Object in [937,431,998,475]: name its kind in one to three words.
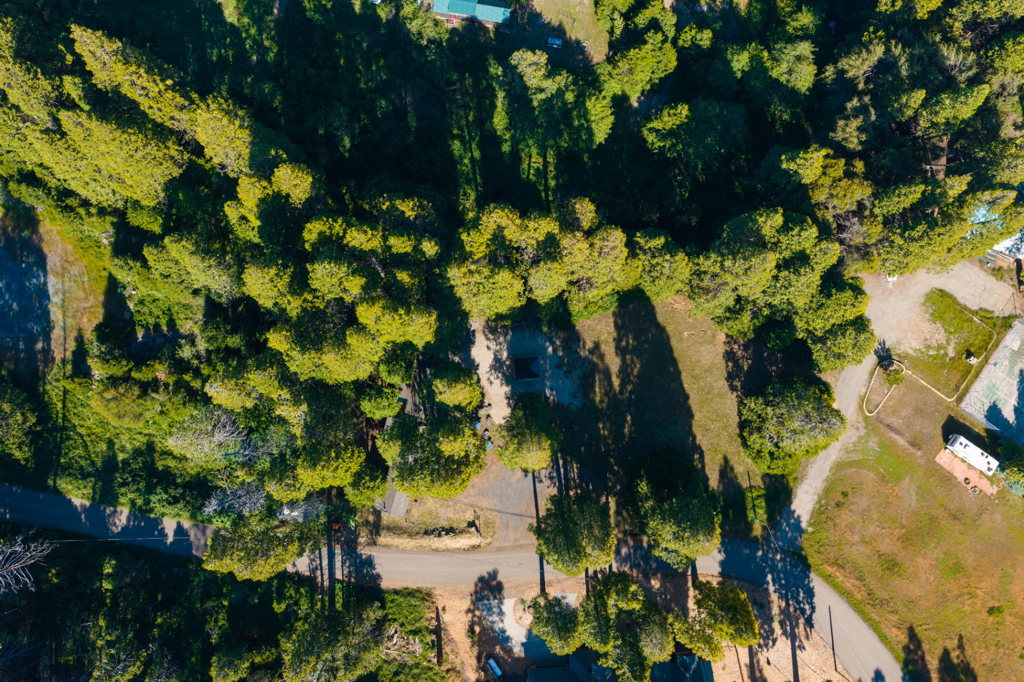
trailer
